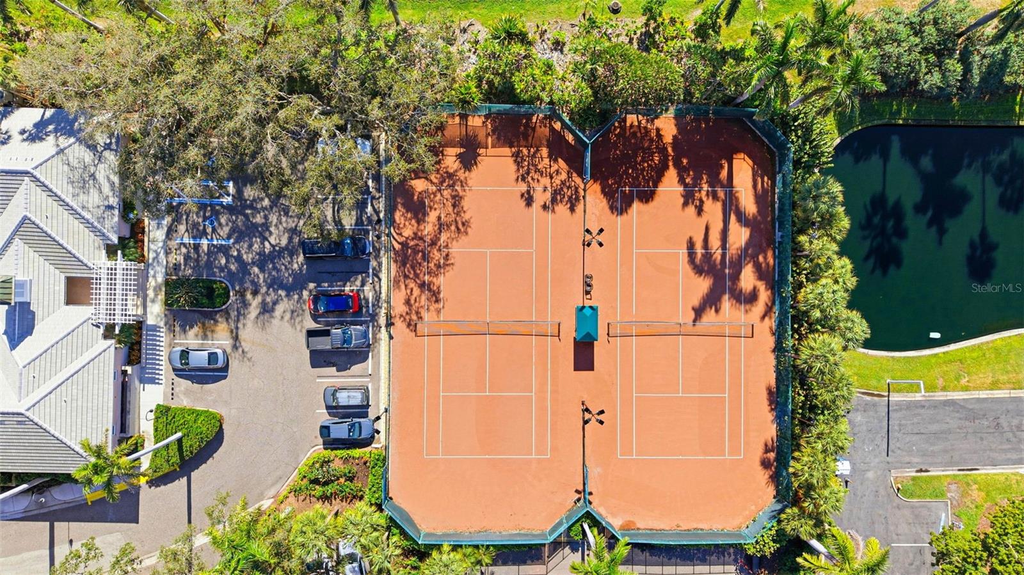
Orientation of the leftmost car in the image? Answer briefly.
from left to right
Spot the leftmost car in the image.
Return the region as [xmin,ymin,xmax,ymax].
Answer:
[172,346,229,372]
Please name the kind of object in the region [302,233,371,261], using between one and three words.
truck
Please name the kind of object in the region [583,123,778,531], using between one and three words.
tennis court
